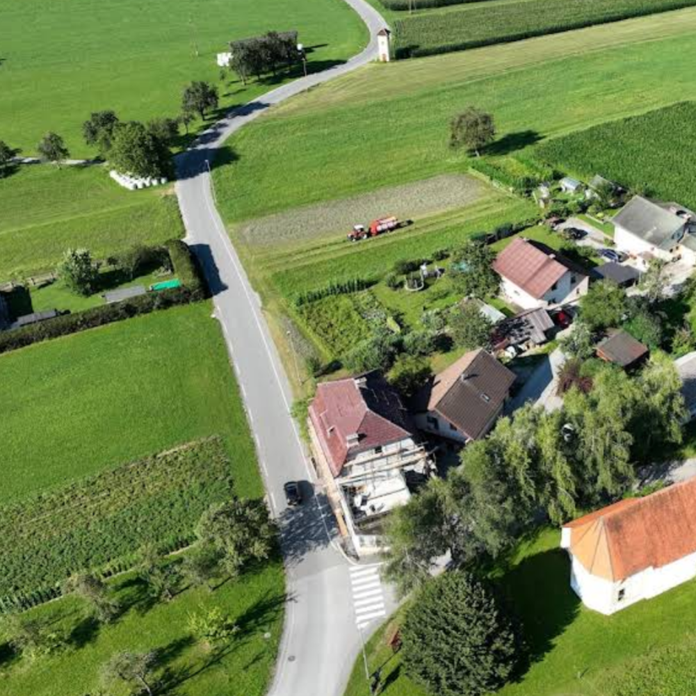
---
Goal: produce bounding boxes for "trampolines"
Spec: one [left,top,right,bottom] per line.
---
[402,272,426,289]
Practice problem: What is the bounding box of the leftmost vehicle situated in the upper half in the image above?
[345,222,371,243]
